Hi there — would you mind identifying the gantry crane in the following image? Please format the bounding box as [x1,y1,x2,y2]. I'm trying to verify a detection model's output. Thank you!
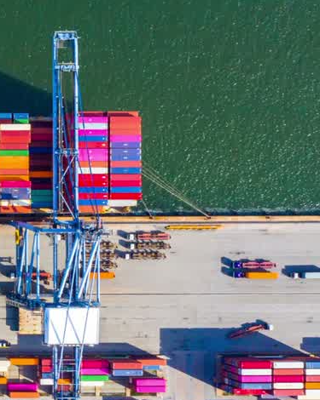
[0,31,114,400]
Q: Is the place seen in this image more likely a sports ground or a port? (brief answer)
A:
port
